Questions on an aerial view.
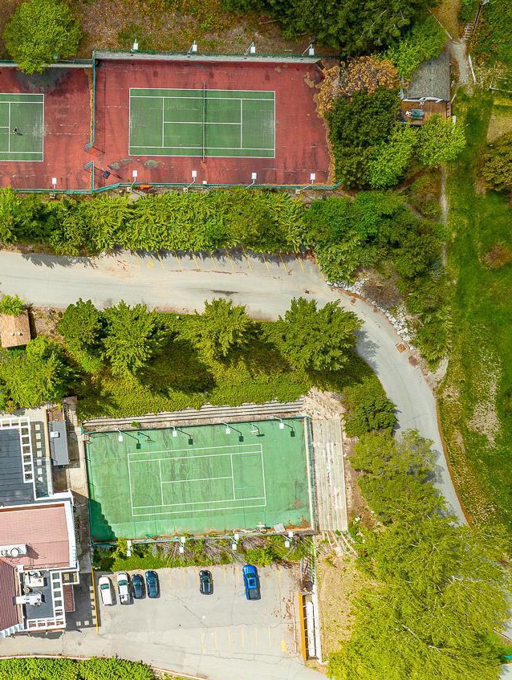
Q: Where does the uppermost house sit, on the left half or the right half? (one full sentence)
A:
You can find the uppermost house on the right side of the picture.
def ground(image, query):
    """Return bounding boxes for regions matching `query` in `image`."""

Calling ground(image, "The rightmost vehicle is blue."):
[244,565,259,600]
